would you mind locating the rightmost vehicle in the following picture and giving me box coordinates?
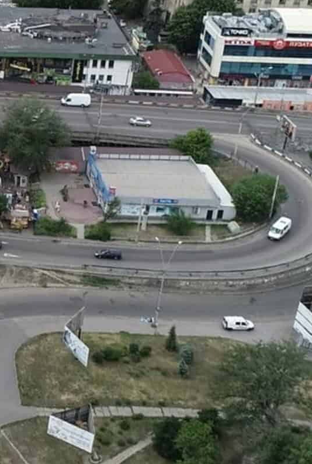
[271,217,289,236]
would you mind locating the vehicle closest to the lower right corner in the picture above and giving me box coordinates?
[223,313,252,330]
